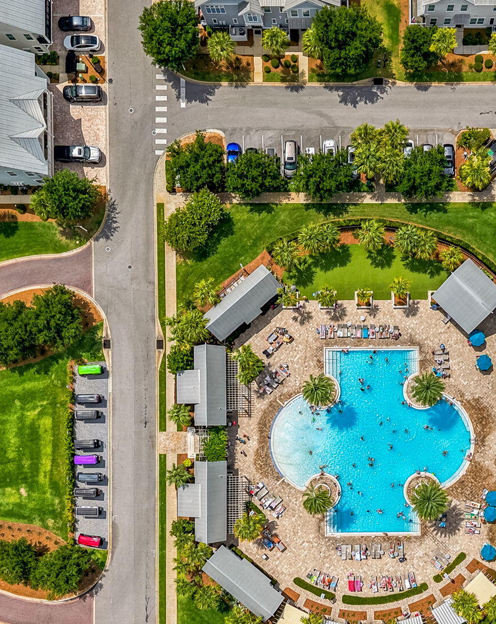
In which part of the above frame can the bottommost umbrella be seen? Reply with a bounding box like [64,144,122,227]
[480,543,496,563]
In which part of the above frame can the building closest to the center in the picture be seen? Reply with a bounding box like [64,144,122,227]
[206,265,282,341]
